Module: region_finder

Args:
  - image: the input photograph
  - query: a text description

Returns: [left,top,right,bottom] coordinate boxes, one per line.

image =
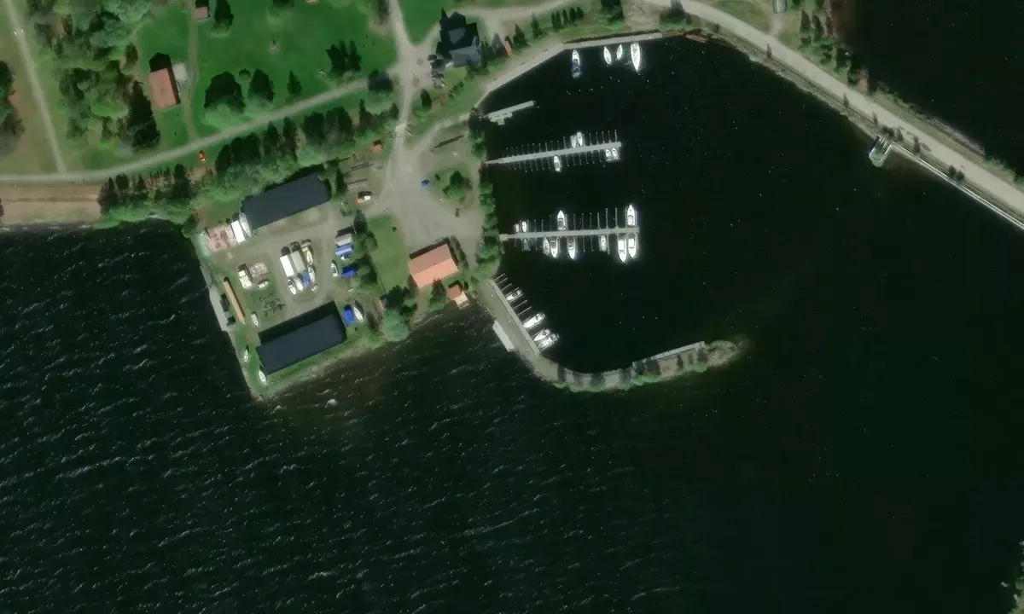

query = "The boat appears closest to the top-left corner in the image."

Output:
[238,213,250,236]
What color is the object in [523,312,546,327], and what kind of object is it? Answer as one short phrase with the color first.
white boat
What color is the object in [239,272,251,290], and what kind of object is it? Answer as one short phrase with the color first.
white vehicle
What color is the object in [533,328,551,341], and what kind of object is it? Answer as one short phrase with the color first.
white boat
